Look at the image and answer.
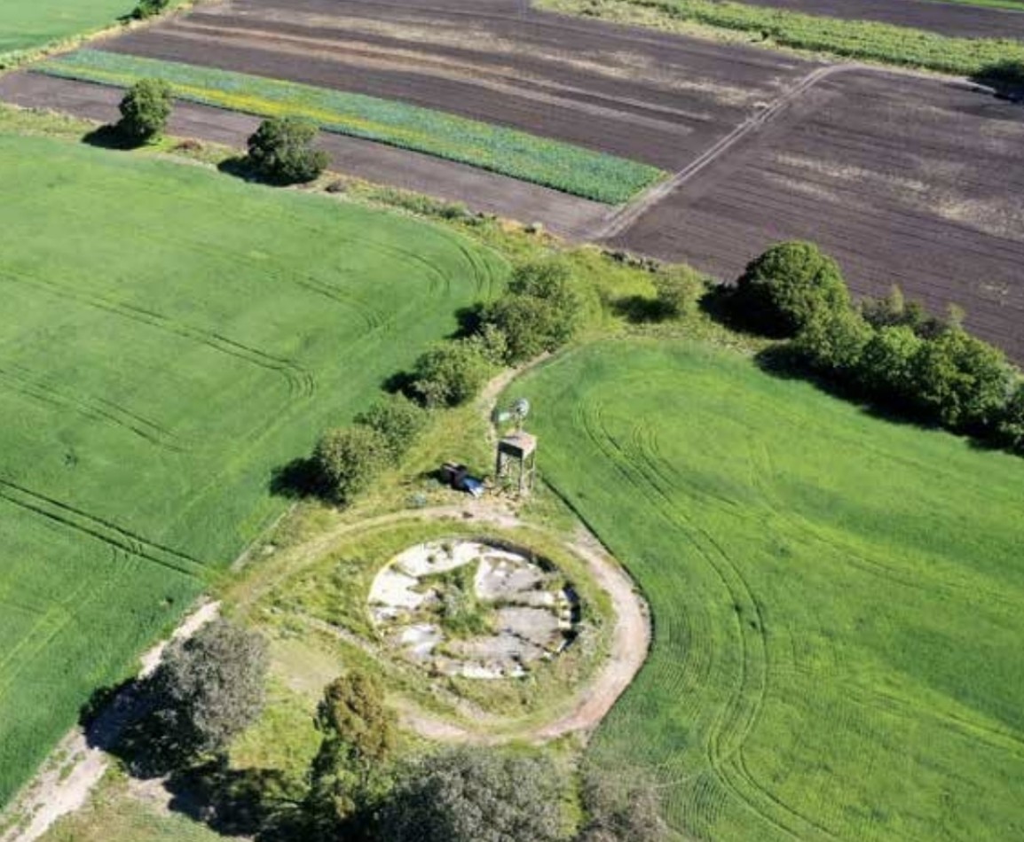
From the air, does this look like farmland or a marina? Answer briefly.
farmland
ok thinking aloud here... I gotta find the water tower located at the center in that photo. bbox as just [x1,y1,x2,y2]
[496,428,537,495]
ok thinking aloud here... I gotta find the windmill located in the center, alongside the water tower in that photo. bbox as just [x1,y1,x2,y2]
[503,400,531,439]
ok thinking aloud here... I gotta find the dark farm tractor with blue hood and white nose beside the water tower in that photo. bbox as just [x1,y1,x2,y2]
[437,466,484,498]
